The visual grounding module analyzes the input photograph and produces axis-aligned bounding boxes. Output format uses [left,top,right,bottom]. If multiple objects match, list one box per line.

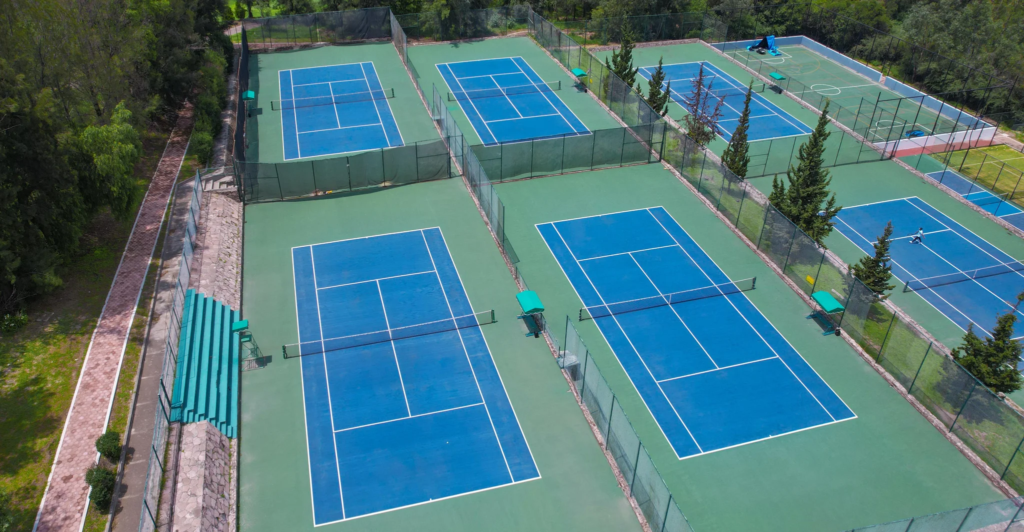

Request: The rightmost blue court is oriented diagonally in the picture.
[898,153,1024,234]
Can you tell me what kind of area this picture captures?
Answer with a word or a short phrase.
sports ground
